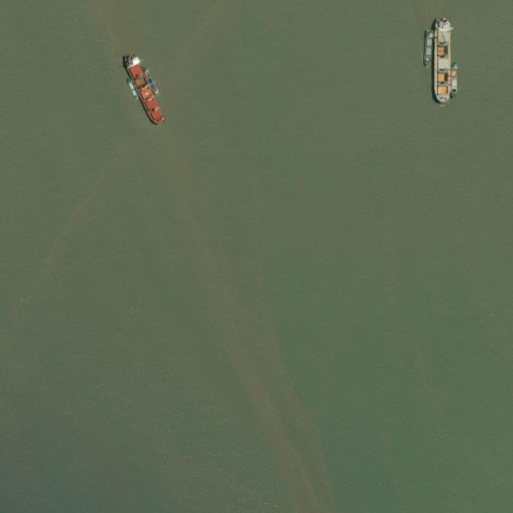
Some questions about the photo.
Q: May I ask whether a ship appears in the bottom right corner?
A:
No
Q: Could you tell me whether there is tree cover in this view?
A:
No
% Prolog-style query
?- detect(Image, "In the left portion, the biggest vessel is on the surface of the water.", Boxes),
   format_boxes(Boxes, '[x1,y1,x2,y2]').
[126,54,162,124]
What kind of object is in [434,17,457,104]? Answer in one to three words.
ship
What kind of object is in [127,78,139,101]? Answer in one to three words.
ship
